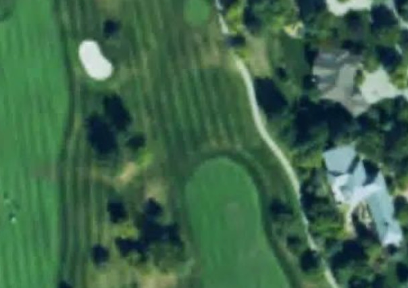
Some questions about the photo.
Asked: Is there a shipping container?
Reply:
No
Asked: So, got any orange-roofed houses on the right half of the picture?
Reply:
No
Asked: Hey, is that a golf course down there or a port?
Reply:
golf course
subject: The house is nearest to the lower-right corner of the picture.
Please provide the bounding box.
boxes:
[325,145,407,245]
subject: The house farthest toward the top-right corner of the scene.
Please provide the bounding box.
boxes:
[311,44,373,120]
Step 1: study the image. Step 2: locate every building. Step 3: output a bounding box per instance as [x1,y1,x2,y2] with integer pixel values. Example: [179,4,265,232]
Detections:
[311,44,373,120]
[325,145,407,245]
